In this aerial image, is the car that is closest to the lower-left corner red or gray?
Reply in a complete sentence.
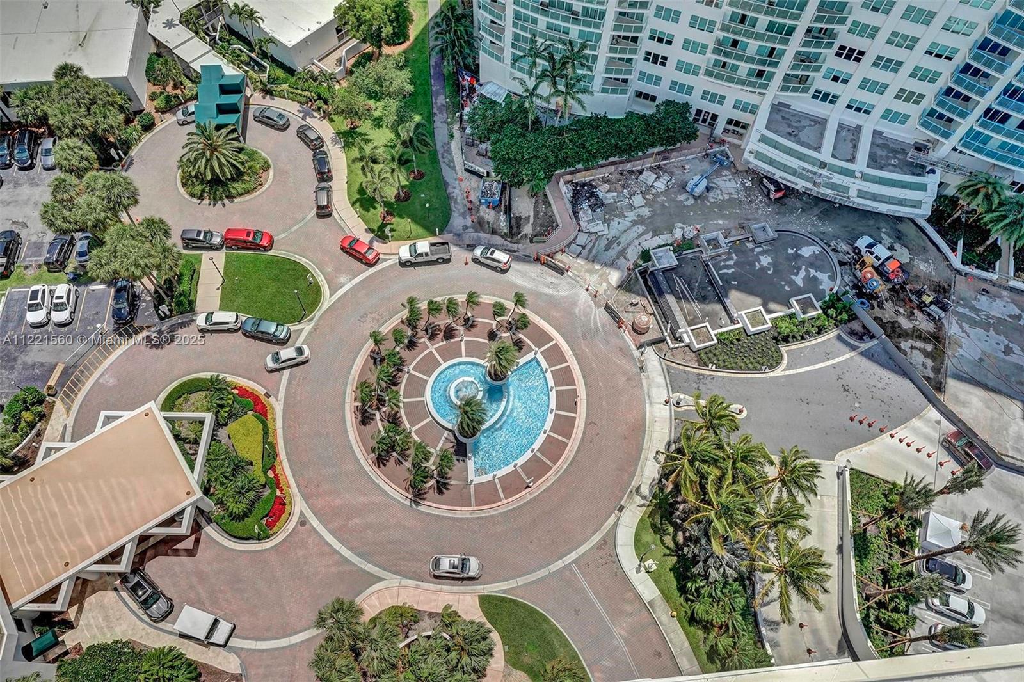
The color of the car that is closest to the lower-left corner is gray.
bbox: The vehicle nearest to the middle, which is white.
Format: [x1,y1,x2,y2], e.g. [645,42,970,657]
[470,246,515,273]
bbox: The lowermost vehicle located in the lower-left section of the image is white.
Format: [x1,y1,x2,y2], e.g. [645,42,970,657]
[168,604,235,649]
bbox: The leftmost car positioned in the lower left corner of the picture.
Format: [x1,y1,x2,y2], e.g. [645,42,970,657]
[118,570,172,621]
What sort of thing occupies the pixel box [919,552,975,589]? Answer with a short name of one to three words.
car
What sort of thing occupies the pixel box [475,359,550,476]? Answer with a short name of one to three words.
swimming pool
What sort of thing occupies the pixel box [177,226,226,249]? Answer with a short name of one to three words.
car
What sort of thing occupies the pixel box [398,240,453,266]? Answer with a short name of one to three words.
truck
